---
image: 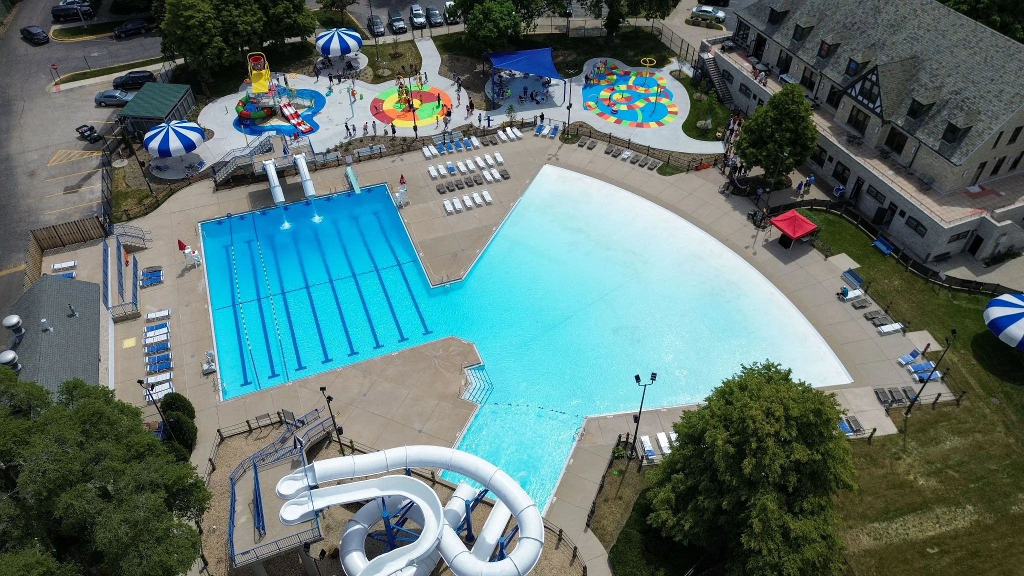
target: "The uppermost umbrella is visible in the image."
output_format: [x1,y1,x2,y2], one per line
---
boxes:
[315,32,362,67]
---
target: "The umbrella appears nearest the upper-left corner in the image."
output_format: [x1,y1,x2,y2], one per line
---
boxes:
[144,124,204,167]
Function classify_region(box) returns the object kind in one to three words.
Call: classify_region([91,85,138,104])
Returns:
car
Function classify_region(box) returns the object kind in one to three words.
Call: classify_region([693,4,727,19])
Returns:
car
